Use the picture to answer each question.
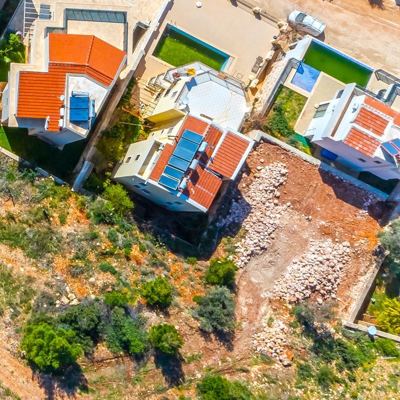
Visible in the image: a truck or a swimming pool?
swimming pool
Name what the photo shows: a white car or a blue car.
white car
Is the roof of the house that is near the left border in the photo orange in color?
Yes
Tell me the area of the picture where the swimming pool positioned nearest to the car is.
top right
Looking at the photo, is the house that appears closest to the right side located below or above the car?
below it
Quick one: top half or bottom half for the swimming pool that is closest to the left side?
top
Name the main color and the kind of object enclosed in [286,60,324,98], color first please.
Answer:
blue swimming pool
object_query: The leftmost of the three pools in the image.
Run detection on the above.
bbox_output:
[147,18,234,74]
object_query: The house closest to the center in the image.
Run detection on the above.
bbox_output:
[117,61,256,223]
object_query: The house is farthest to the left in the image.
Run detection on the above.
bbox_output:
[0,10,134,150]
